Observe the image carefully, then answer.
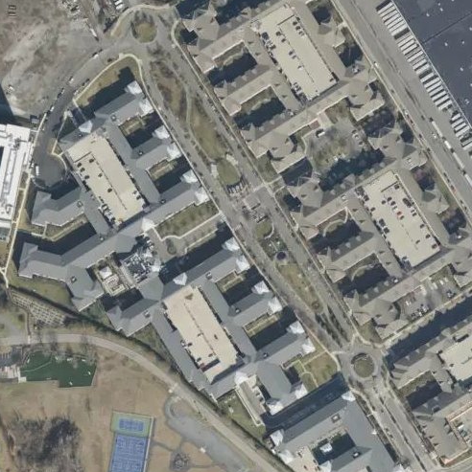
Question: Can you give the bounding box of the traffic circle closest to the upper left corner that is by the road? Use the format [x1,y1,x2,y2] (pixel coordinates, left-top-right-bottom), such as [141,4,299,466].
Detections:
[124,6,166,52]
